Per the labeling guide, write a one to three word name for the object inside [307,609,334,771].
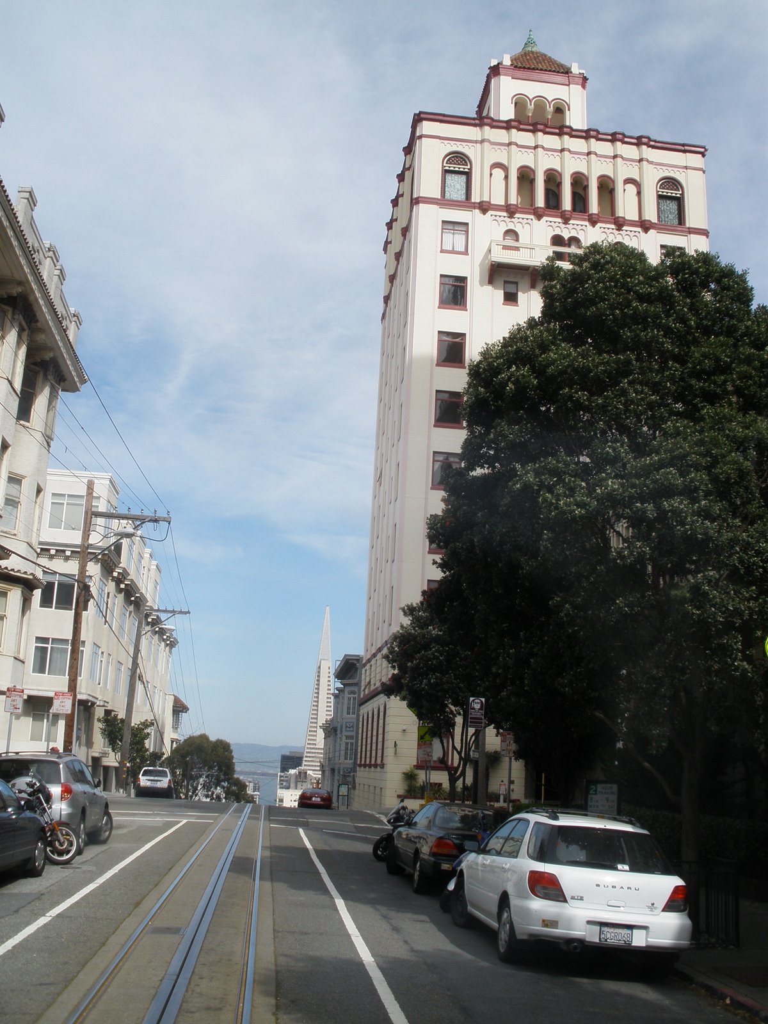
building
